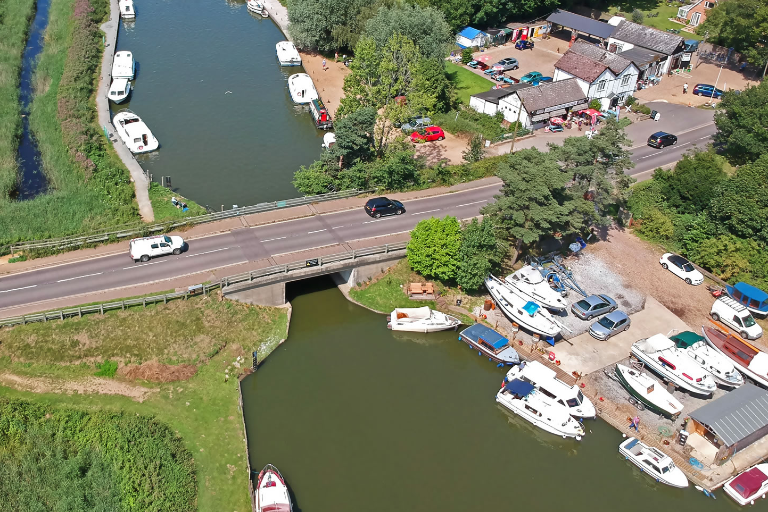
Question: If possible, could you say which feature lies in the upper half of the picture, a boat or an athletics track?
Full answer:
Looking in the upper half of the picture, you will find a boat.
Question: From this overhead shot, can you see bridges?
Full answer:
Yes, the image includes a bridge.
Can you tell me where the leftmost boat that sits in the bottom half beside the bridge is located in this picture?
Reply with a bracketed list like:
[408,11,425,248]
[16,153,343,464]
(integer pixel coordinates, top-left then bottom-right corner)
[385,304,464,340]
